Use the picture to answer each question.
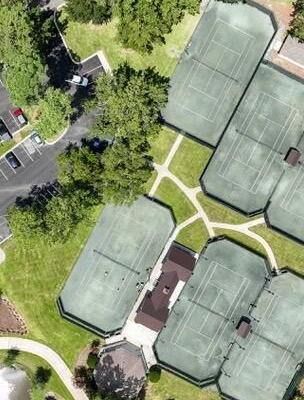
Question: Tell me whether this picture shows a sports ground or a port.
sports ground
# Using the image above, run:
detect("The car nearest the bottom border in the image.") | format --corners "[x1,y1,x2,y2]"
[7,150,21,168]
